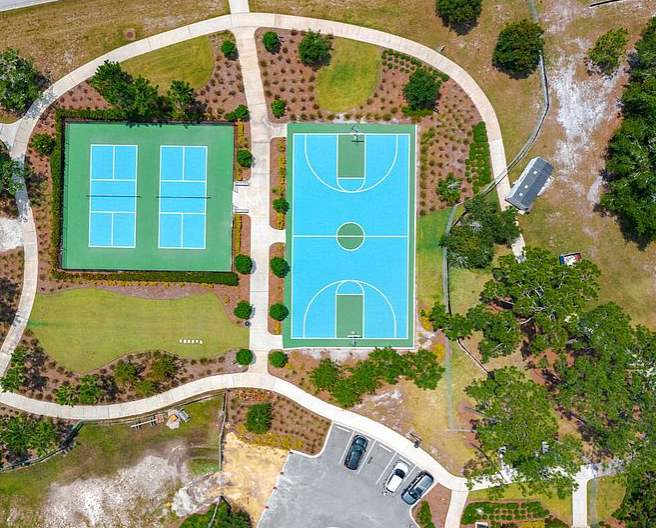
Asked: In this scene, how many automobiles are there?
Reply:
three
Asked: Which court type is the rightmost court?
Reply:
basketball court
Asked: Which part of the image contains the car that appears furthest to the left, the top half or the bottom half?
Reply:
bottom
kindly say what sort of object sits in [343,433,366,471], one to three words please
car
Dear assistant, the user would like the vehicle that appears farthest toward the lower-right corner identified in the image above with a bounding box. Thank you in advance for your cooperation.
[402,469,434,505]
